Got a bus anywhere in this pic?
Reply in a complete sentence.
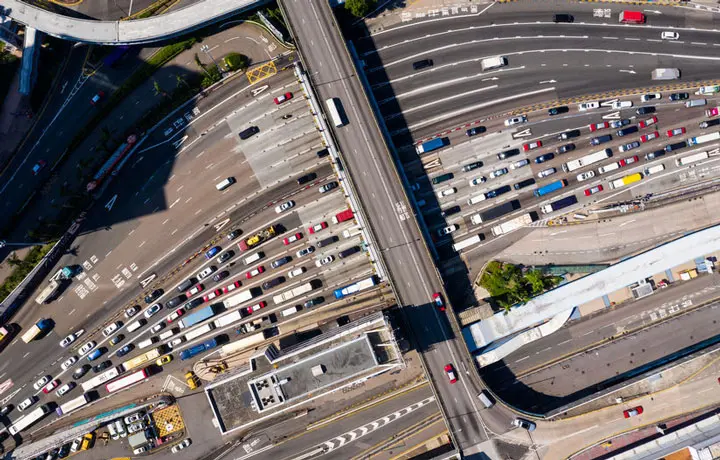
Yes, I can see a bus in this picture.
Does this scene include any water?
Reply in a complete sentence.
No, there's no water in this view.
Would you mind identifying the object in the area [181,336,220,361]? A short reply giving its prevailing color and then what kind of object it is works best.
blue truck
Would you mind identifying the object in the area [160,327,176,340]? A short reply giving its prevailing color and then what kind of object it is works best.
white vehicle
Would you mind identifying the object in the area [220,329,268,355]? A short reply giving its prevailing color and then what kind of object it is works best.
white bus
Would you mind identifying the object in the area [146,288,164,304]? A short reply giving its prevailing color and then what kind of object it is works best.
black car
